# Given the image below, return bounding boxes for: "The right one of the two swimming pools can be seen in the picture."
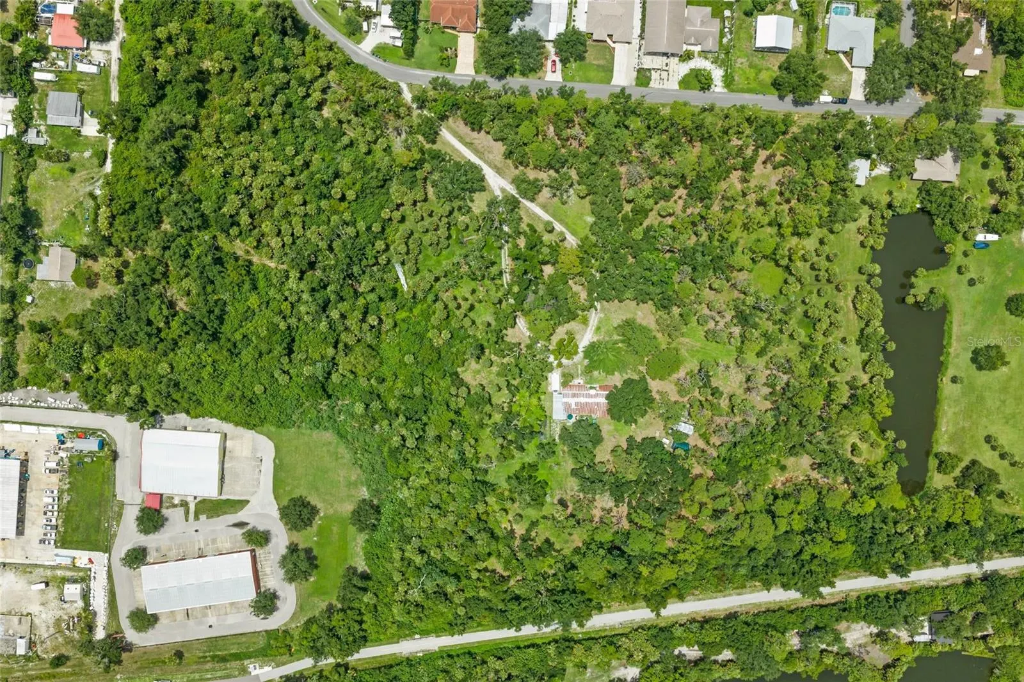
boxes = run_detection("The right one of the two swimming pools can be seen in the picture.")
[833,1,857,16]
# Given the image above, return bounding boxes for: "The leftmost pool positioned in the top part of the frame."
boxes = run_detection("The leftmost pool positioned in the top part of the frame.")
[38,2,56,14]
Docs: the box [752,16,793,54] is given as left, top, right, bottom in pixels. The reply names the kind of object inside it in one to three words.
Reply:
barn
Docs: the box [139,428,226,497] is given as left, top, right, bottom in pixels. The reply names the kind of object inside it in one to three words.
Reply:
building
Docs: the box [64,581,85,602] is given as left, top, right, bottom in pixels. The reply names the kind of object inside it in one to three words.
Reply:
shed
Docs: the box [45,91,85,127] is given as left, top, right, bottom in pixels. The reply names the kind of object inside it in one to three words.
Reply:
house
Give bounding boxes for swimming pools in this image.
[833,1,857,16]
[38,2,56,14]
